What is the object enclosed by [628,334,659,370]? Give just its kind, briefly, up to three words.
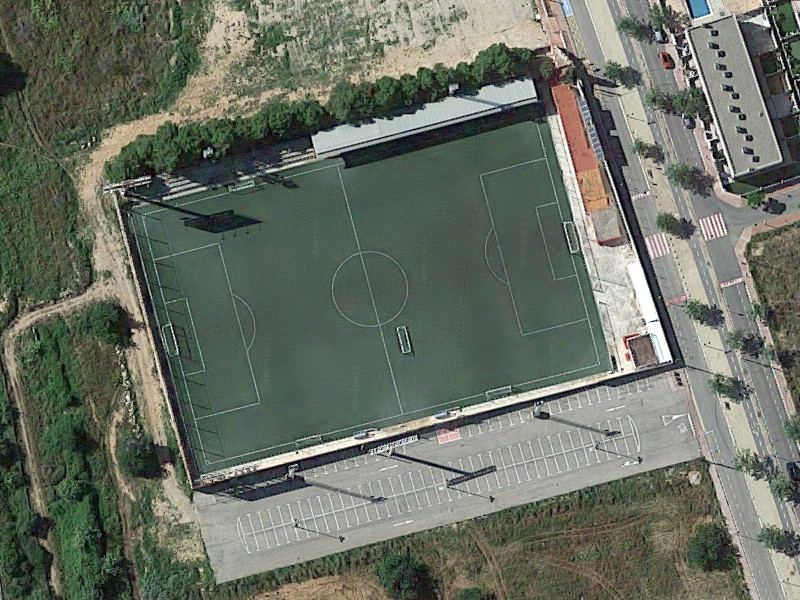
building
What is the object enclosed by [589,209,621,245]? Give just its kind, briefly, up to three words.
building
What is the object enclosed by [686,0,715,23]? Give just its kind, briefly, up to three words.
swimming pool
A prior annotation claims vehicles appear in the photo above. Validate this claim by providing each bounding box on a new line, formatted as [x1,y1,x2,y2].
[652,26,664,44]
[788,460,799,479]
[662,51,673,69]
[683,112,694,130]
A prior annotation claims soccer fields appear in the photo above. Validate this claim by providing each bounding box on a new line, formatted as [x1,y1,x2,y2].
[122,108,612,473]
